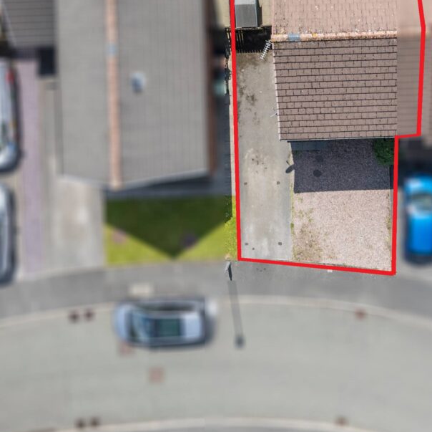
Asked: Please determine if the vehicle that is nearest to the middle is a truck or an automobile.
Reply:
automobile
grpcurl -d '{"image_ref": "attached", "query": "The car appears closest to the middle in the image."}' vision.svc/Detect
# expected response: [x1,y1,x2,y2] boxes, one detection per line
[114,297,217,349]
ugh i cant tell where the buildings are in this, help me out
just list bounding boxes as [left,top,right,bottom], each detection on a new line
[273,0,427,142]
[234,0,258,29]
[56,0,215,191]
